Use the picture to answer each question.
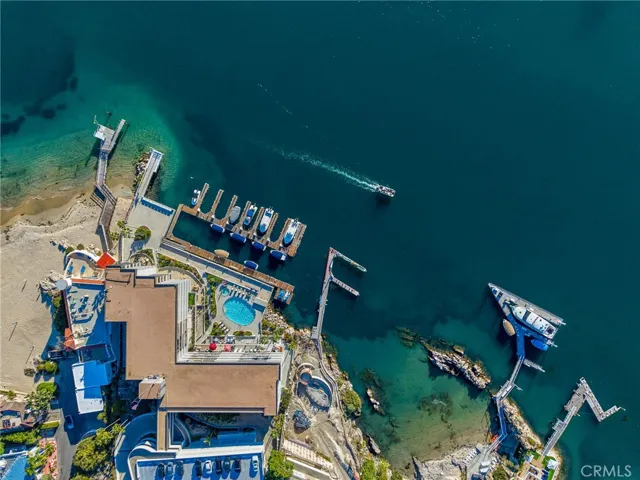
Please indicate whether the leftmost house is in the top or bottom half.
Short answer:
bottom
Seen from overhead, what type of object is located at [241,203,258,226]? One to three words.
boat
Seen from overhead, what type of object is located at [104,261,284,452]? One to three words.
building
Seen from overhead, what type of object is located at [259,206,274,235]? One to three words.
boat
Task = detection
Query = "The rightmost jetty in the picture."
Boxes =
[539,376,625,456]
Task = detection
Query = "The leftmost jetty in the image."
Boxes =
[93,115,129,252]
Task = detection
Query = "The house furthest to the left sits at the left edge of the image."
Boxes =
[0,398,35,430]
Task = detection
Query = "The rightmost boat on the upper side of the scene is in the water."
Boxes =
[376,182,396,195]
